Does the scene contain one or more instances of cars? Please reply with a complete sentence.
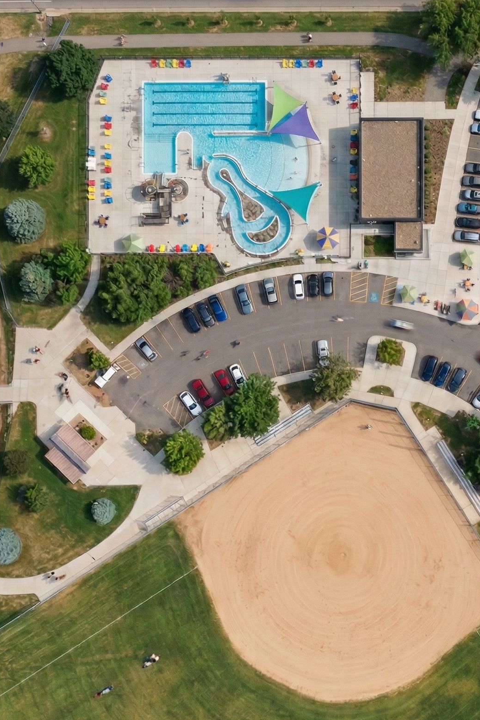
Yes, the picture does show a car.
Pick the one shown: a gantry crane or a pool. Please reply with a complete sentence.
The image shows a pool.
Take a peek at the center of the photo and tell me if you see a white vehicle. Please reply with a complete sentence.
Yes, a white vehicle can be seen at the center of the photo.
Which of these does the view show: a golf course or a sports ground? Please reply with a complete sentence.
The area seen from above is a sports ground.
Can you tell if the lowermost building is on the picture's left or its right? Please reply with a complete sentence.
The lowermost building is on the left side of the image.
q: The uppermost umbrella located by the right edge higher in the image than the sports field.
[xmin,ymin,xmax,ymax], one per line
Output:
[457,250,475,266]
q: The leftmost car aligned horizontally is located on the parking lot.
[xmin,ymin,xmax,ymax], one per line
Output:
[390,318,415,332]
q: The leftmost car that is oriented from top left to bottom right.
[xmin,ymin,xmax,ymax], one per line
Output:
[136,335,155,361]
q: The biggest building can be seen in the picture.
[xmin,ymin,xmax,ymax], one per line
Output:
[359,118,424,257]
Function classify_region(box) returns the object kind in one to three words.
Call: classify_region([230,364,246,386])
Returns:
car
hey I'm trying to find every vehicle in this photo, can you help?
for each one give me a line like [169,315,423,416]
[474,394,480,407]
[183,307,201,333]
[454,229,480,241]
[434,362,451,387]
[181,391,201,415]
[456,216,480,228]
[422,356,439,382]
[237,286,253,313]
[449,367,466,393]
[457,201,480,213]
[293,274,304,299]
[136,335,155,361]
[307,274,319,297]
[263,275,279,306]
[197,302,214,327]
[193,380,213,405]
[230,364,246,386]
[470,122,480,135]
[390,318,415,332]
[322,272,334,297]
[474,110,480,120]
[208,293,227,323]
[215,370,231,393]
[464,177,480,187]
[462,161,480,172]
[463,188,480,200]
